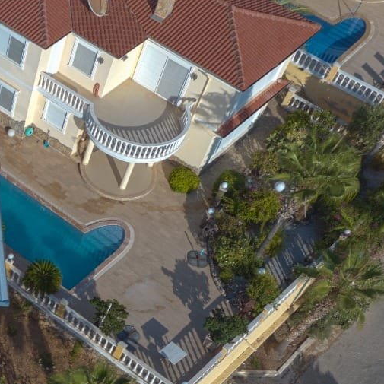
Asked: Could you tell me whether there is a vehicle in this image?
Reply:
No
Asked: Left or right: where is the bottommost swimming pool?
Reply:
left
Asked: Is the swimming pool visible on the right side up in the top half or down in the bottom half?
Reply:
top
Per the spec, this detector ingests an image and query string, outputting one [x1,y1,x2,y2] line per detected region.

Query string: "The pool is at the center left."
[0,166,140,298]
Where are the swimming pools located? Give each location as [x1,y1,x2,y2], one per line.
[0,166,140,298]
[306,11,376,67]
